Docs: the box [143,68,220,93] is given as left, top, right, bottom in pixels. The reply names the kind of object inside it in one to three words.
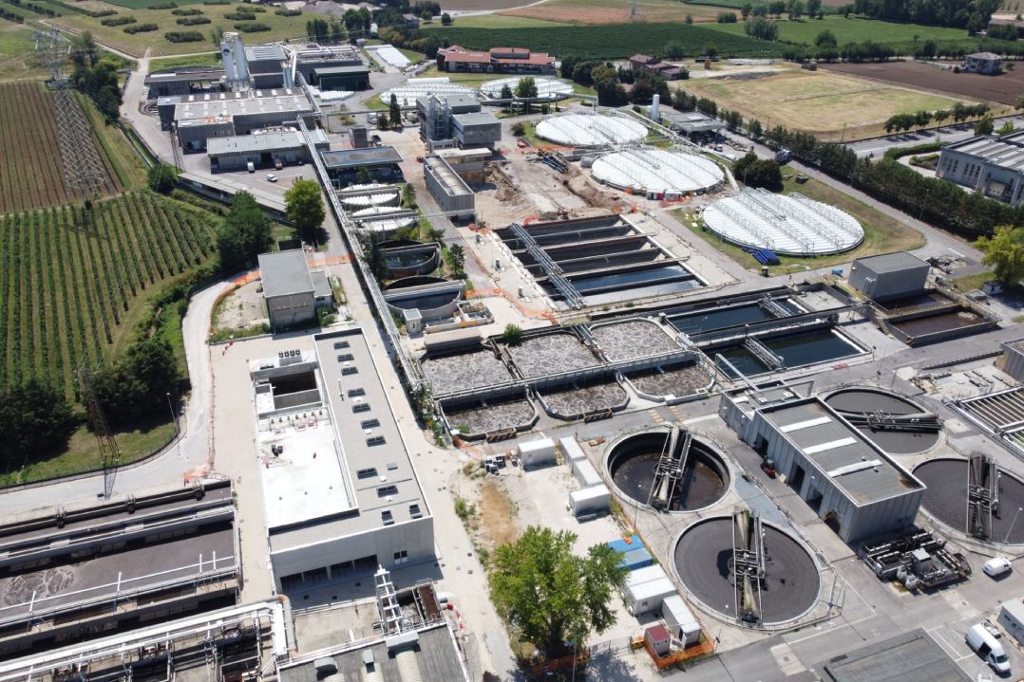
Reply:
shed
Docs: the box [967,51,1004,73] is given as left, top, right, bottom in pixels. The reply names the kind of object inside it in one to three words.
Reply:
house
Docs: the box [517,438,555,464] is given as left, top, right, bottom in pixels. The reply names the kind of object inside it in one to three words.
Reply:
building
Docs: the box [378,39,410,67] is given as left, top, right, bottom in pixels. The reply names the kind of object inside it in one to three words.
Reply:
greenhouse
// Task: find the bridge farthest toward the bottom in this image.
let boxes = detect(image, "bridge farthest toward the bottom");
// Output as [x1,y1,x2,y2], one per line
[728,510,761,633]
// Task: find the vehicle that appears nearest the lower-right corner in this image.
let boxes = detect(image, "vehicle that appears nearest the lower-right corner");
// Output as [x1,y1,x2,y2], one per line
[964,624,1013,673]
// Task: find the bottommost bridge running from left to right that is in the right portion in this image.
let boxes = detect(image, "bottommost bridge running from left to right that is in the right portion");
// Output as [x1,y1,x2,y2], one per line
[831,408,945,429]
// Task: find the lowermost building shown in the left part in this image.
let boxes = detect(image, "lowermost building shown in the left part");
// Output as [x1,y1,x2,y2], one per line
[309,615,470,682]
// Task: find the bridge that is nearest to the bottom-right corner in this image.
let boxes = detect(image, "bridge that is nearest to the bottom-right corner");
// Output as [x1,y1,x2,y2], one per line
[961,451,993,550]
